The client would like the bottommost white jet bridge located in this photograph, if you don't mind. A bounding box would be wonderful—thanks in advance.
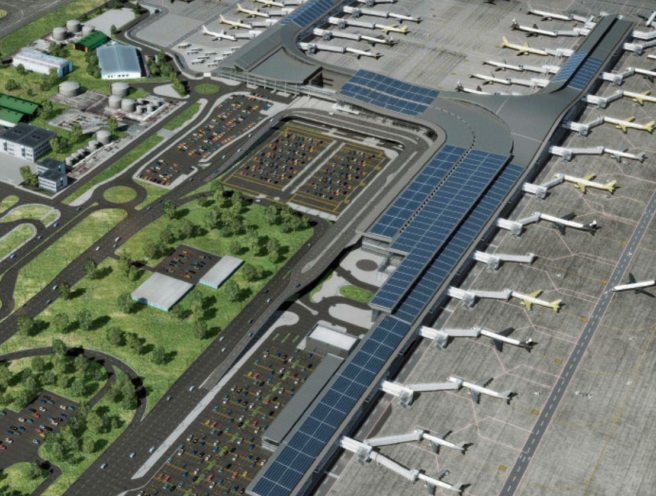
[342,431,425,482]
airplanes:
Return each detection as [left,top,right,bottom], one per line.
[375,23,410,33]
[502,36,547,57]
[482,54,521,72]
[345,47,382,59]
[472,323,534,352]
[388,12,423,22]
[235,0,269,18]
[615,87,656,104]
[633,7,656,27]
[200,22,235,41]
[361,34,394,45]
[512,18,555,38]
[527,2,569,22]
[410,466,466,496]
[626,65,656,81]
[504,286,562,311]
[457,83,490,95]
[218,10,251,30]
[470,68,508,85]
[598,112,656,132]
[605,146,647,162]
[533,209,599,233]
[614,270,656,297]
[447,373,513,405]
[412,425,467,454]
[554,169,619,193]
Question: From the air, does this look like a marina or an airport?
airport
